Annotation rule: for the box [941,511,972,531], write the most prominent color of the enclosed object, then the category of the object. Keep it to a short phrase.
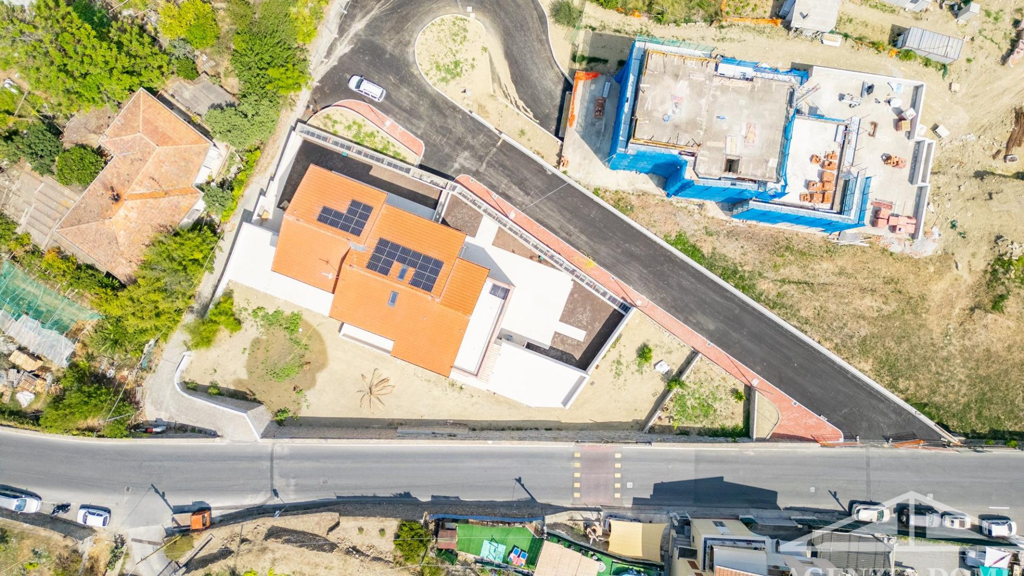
white car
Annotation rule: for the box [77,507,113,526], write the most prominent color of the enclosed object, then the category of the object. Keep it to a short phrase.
white car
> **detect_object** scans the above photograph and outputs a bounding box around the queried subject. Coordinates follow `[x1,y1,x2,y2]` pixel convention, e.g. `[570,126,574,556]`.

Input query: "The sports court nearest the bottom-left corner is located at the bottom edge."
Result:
[457,525,543,572]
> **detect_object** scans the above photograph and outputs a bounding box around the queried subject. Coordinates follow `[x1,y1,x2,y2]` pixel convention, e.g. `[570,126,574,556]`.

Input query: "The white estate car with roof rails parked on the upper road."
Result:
[347,74,388,103]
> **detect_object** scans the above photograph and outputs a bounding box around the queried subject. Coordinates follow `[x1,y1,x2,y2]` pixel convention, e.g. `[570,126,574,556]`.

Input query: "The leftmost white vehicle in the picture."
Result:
[0,489,42,513]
